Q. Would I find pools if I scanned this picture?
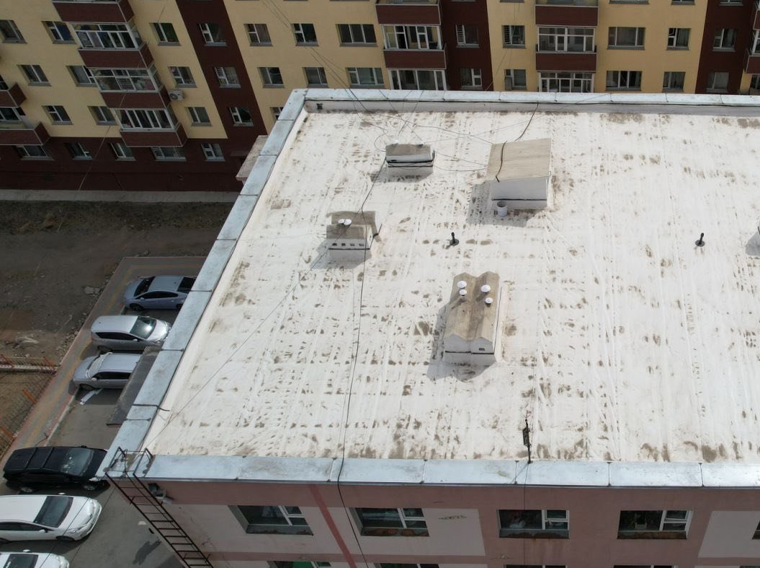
No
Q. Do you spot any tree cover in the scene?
No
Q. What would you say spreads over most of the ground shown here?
buildings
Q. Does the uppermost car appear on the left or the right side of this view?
left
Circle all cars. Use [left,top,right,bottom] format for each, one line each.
[120,272,204,310]
[86,312,181,352]
[0,490,100,543]
[0,550,70,568]
[71,348,145,391]
[0,436,117,489]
